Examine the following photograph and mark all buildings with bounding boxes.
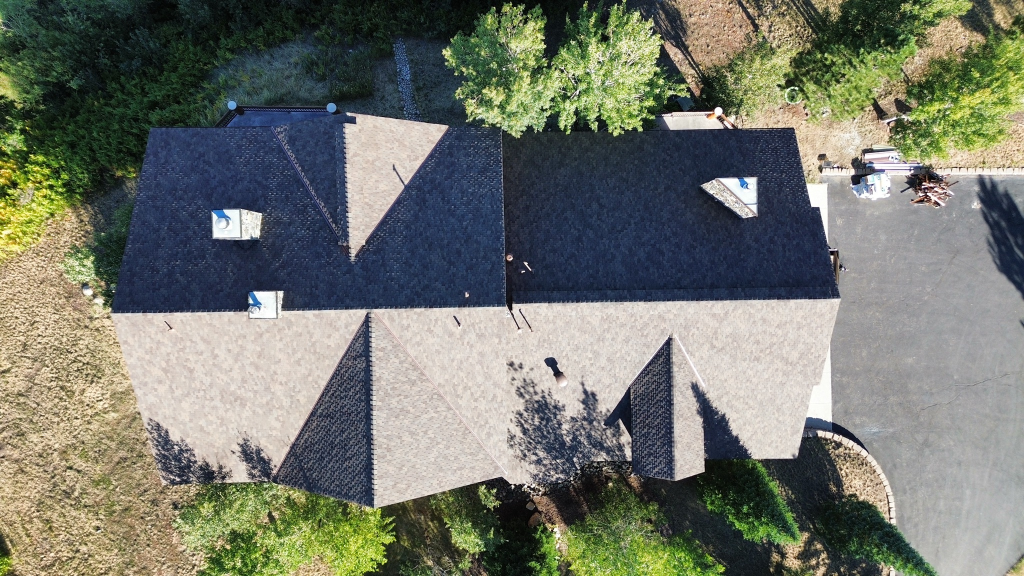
[110,111,848,508]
